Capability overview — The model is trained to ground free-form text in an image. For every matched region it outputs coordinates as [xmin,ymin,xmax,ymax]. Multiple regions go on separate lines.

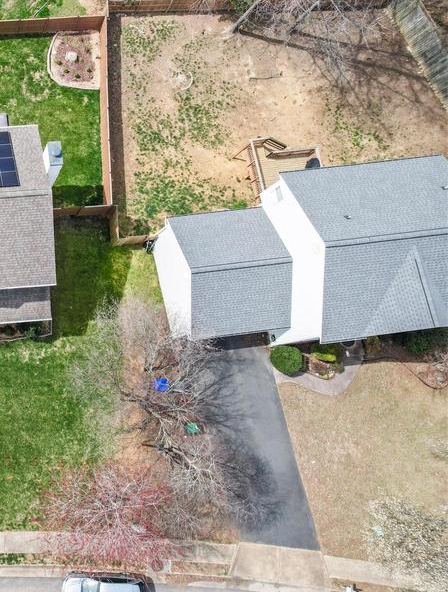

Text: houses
[154,153,448,369]
[0,123,61,325]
